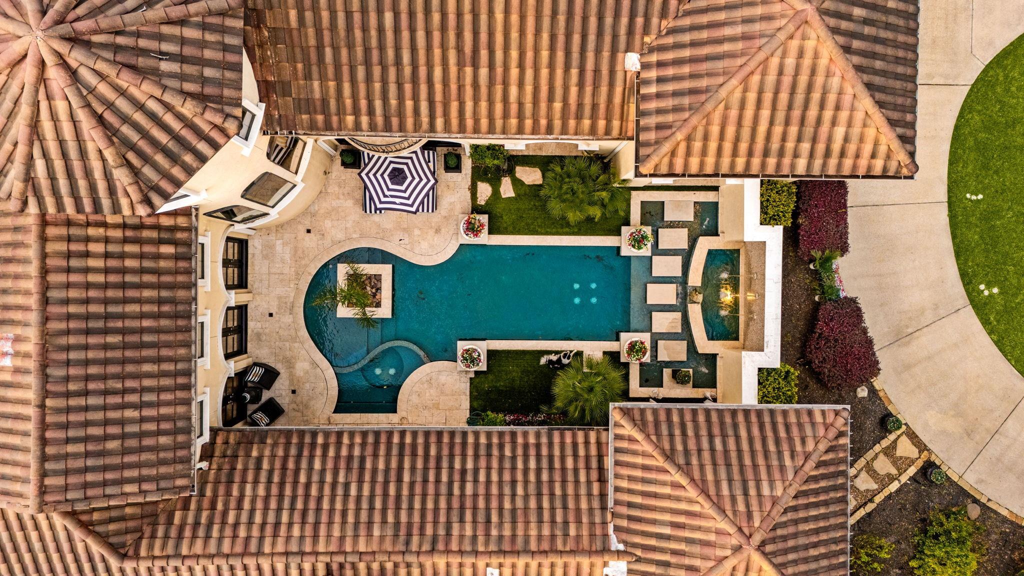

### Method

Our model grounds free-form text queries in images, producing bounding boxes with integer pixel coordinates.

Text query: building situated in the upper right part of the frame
[615,0,924,189]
